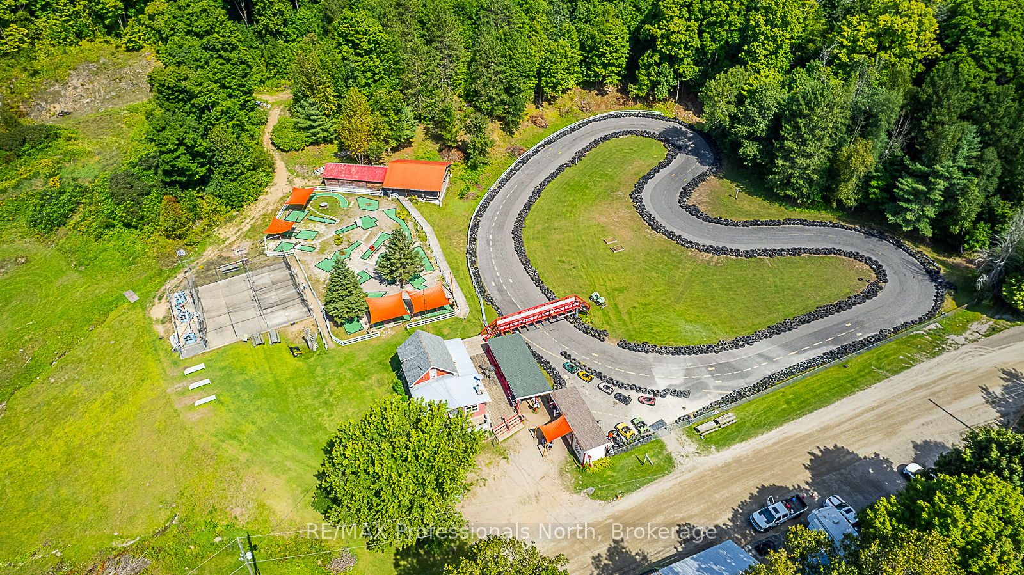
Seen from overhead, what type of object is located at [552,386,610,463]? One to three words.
building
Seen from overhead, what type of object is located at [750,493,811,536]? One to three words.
truck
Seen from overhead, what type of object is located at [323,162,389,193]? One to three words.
shed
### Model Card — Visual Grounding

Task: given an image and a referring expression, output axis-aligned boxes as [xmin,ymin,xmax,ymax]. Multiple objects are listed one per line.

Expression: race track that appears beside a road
[473,115,939,453]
